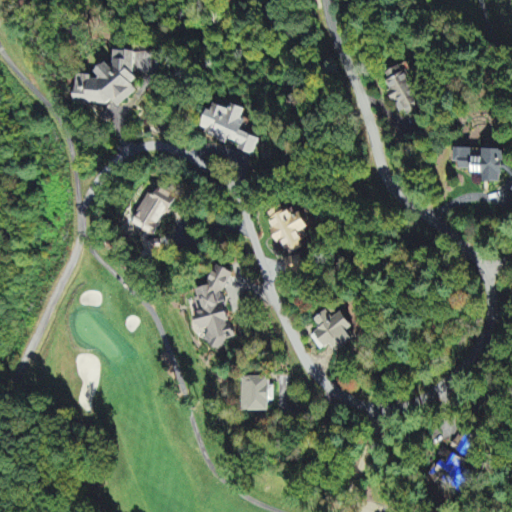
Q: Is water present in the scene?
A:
No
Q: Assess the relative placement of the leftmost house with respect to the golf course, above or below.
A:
above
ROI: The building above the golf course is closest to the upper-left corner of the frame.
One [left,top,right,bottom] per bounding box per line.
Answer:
[68,46,135,104]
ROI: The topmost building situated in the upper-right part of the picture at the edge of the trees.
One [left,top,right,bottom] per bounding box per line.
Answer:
[384,66,418,111]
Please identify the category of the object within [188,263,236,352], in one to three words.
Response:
house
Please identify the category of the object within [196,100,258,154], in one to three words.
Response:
house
